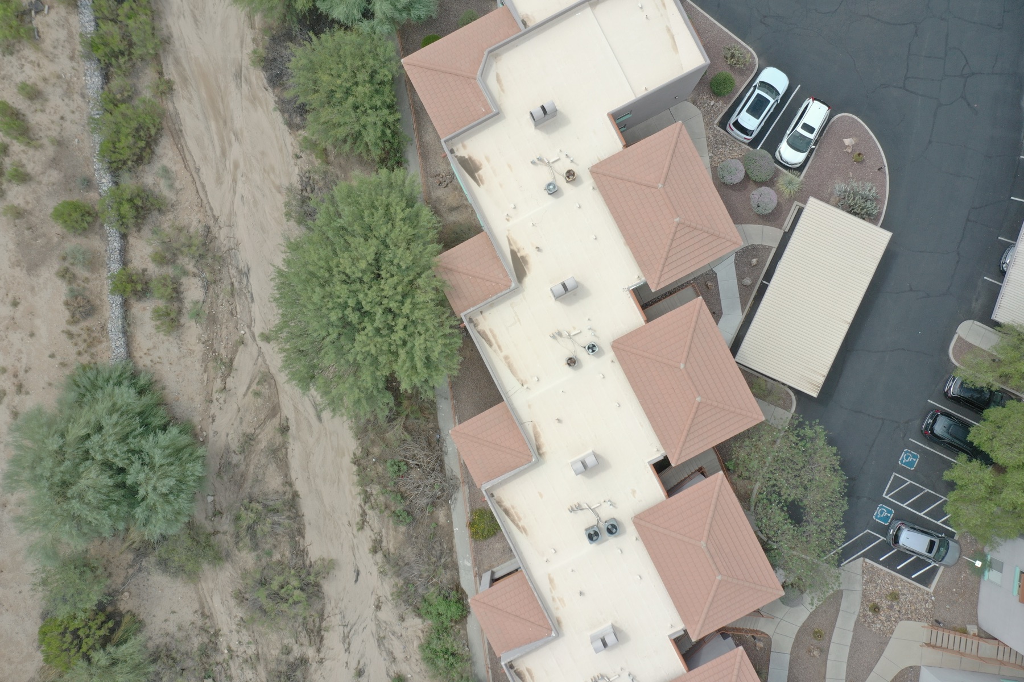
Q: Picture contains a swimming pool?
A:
No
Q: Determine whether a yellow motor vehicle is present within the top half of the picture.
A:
No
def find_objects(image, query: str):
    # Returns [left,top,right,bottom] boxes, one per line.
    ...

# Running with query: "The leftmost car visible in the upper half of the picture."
[725,67,786,149]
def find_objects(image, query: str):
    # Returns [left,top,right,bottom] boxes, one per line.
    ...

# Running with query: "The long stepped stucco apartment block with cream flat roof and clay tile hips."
[401,0,787,682]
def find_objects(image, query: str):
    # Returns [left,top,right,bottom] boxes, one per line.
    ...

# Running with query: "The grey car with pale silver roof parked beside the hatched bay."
[879,518,961,571]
